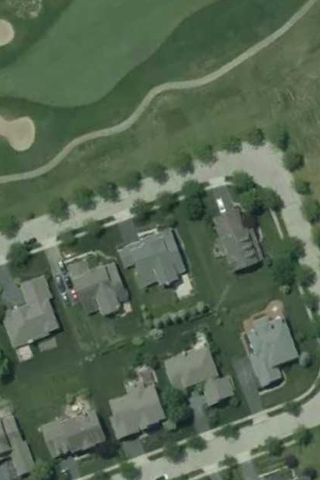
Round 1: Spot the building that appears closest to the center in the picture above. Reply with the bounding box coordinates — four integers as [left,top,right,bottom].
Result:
[115,228,193,299]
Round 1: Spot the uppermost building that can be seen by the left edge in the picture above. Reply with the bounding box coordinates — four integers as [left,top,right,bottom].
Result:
[0,278,62,361]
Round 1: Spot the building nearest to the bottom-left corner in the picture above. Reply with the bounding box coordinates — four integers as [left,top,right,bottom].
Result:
[0,413,34,474]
